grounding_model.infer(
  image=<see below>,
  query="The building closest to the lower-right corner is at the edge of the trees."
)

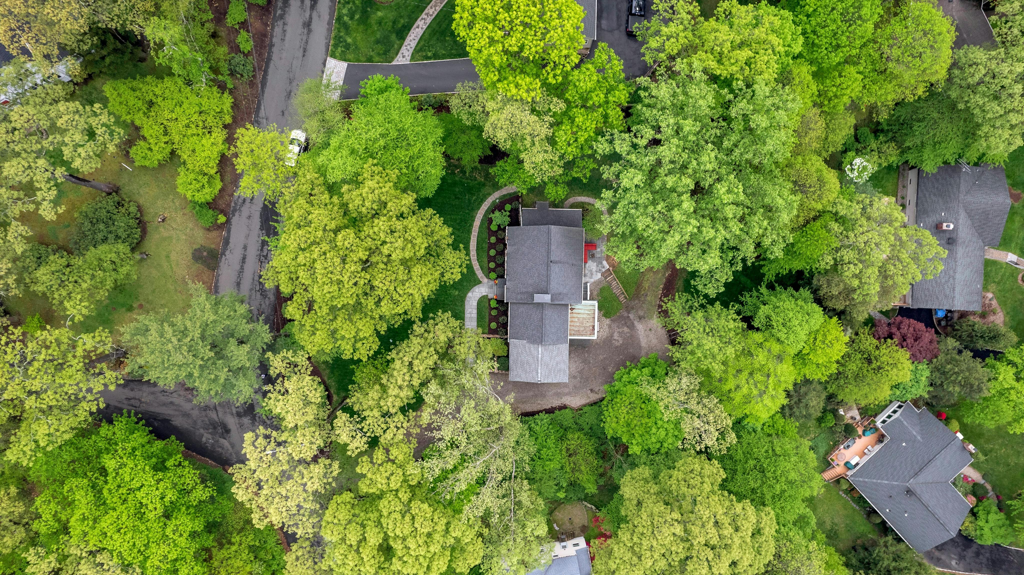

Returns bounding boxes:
[838,391,979,552]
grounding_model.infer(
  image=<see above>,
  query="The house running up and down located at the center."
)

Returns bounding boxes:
[497,202,585,383]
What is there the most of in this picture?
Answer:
trees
